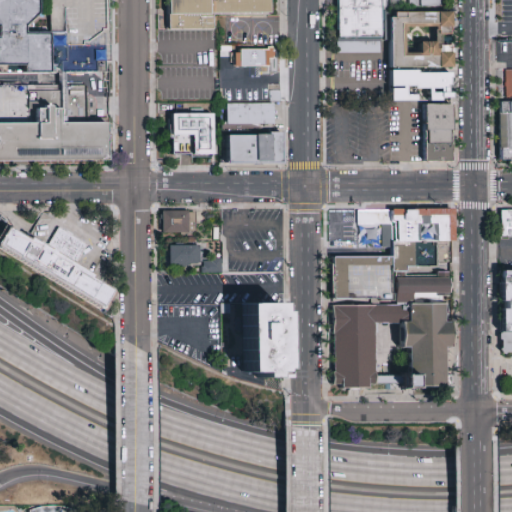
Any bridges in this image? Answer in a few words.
Yes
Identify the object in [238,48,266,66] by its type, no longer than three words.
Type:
building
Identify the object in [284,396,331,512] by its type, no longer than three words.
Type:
bridge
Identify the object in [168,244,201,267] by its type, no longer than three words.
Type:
house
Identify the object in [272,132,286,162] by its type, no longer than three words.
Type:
building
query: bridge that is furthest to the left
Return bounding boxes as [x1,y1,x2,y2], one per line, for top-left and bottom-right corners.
[114,328,160,508]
